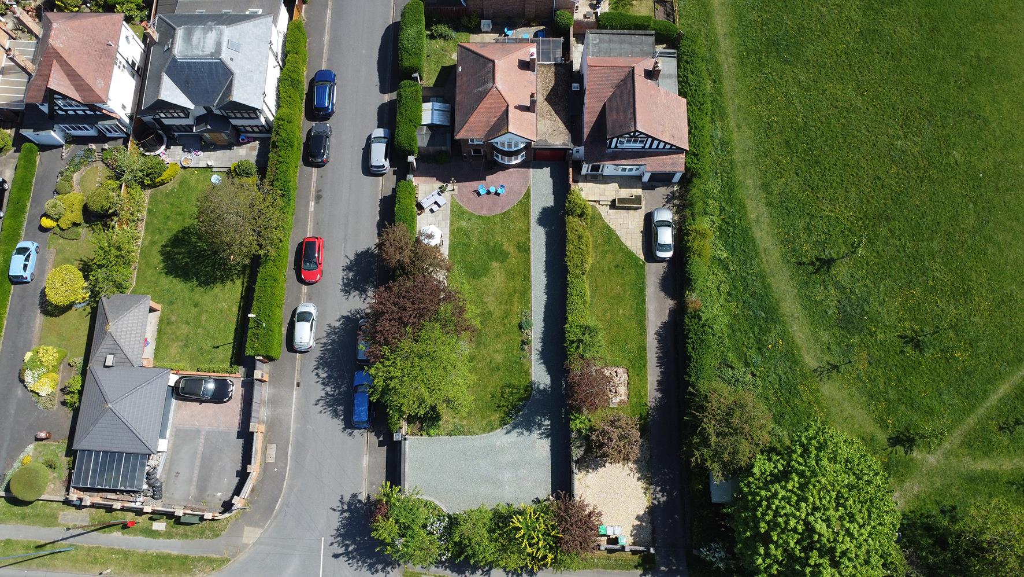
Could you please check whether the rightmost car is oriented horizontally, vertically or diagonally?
vertically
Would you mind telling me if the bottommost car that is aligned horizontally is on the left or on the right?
left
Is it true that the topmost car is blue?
Yes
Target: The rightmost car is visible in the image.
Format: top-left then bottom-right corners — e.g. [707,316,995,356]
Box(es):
[649,208,675,261]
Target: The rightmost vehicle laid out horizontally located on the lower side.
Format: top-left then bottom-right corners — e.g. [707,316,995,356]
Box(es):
[173,375,237,403]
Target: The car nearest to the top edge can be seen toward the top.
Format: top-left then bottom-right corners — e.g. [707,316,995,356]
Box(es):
[312,72,339,122]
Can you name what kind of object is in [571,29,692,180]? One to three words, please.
house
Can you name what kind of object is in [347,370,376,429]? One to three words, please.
car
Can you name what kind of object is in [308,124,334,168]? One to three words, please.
car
